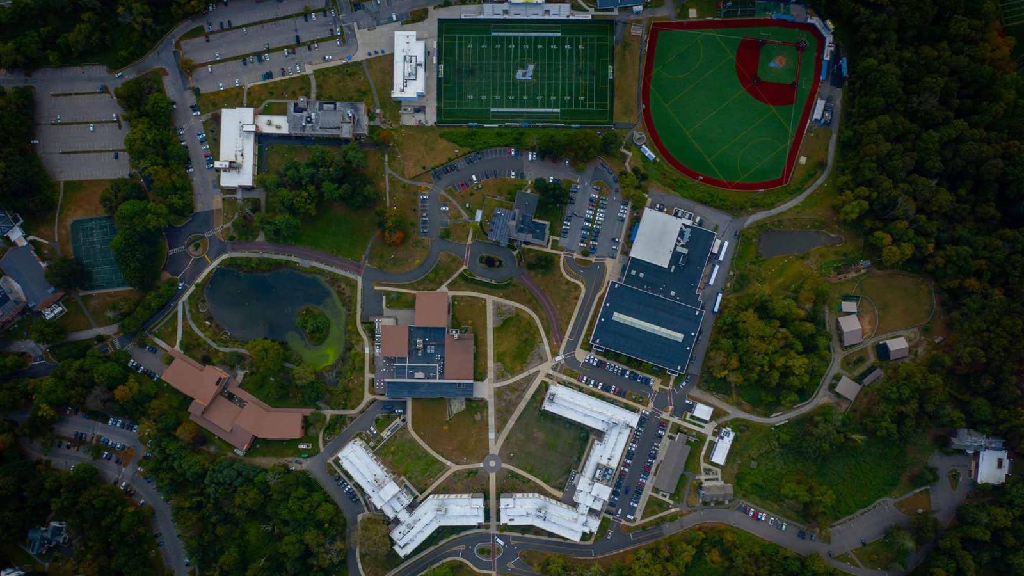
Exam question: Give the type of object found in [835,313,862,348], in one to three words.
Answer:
barn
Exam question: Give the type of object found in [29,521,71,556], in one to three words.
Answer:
house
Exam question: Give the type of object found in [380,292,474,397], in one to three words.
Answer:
building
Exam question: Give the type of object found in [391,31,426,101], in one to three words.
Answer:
building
